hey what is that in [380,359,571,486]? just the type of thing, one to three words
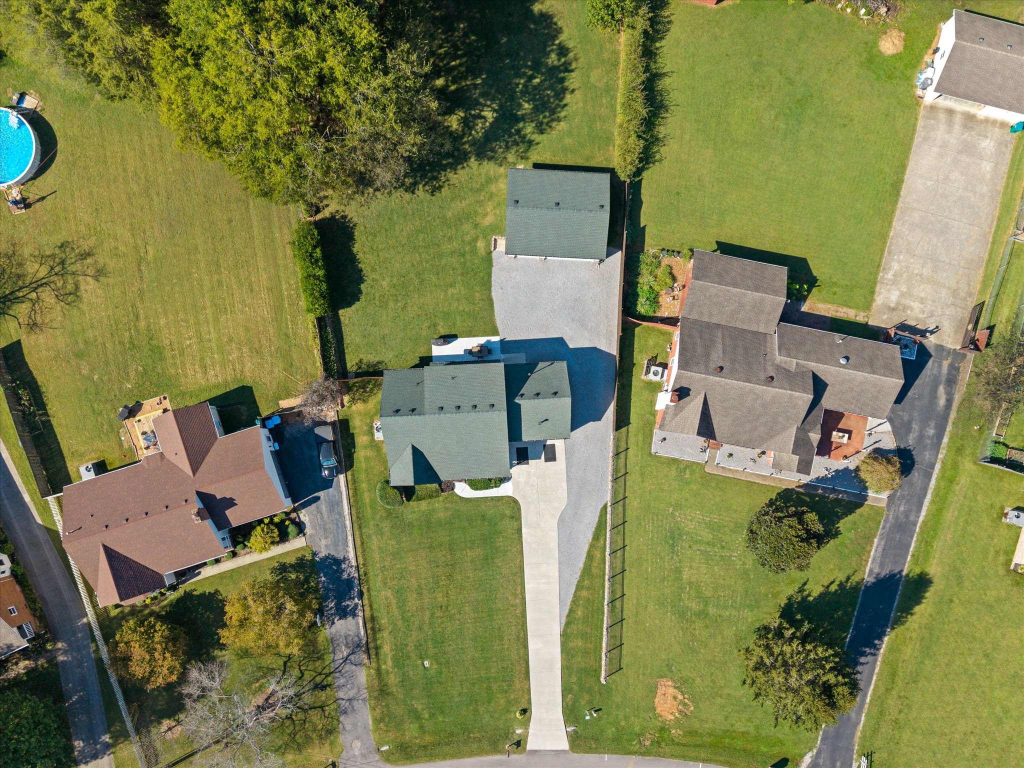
house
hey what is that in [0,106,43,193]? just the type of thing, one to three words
swimming pool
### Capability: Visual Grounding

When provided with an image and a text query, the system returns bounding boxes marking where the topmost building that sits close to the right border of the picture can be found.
[920,8,1024,126]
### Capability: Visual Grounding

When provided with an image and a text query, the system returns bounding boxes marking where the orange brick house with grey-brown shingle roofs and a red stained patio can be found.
[651,249,902,476]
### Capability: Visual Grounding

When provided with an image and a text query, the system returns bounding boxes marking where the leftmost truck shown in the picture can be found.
[316,426,341,481]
